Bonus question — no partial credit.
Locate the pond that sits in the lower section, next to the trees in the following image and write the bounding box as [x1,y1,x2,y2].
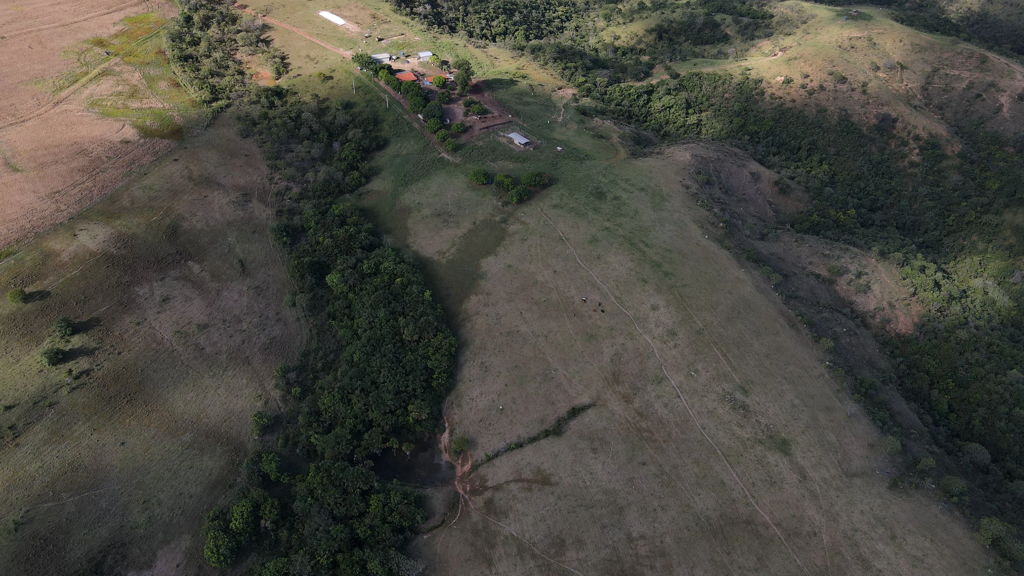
[373,441,455,488]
